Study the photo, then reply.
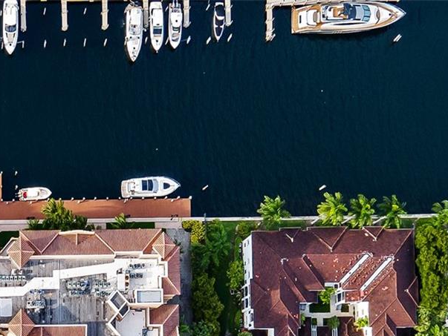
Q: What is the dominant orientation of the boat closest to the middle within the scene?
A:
horizontally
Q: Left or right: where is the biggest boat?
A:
right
